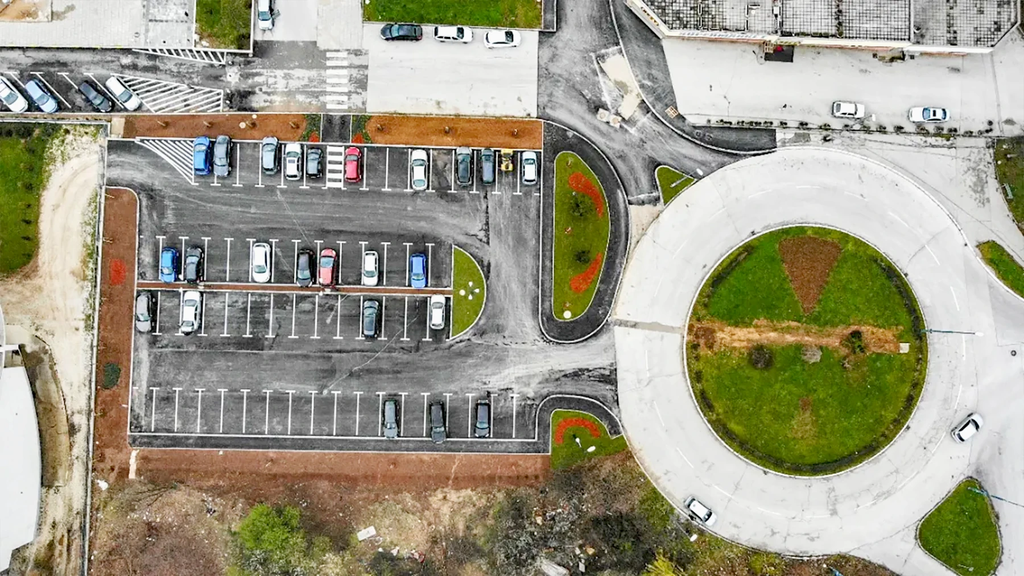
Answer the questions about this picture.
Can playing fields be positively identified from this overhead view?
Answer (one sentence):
No, the picture doesn't show any playing field.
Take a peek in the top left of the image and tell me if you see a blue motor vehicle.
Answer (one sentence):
Yes, the scene does show a blue motor vehicle in the top left of the image.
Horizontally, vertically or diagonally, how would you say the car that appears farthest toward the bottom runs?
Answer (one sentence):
The car that appears farthest toward the bottom is oriented diagonally.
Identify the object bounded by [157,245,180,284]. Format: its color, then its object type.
blue car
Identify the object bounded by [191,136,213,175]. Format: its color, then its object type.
blue car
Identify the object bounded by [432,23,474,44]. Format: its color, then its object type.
white car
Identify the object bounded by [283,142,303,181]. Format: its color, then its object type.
white car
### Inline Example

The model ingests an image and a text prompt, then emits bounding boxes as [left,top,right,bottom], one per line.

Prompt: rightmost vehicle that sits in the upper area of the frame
[905,103,951,124]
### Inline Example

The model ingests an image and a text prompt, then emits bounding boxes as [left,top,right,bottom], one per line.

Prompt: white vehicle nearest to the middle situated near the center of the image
[428,293,447,331]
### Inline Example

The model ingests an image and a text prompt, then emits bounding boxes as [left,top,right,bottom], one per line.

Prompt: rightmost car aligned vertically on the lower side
[473,398,492,439]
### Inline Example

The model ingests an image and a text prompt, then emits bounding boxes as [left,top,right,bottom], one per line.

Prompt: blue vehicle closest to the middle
[408,251,427,289]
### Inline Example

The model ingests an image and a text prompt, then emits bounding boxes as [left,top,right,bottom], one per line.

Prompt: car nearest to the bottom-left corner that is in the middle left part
[132,292,156,333]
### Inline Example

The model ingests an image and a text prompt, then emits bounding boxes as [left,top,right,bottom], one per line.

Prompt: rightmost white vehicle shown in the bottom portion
[947,410,984,444]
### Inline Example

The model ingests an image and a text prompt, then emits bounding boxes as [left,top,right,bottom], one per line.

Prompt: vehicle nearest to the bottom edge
[681,493,718,527]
